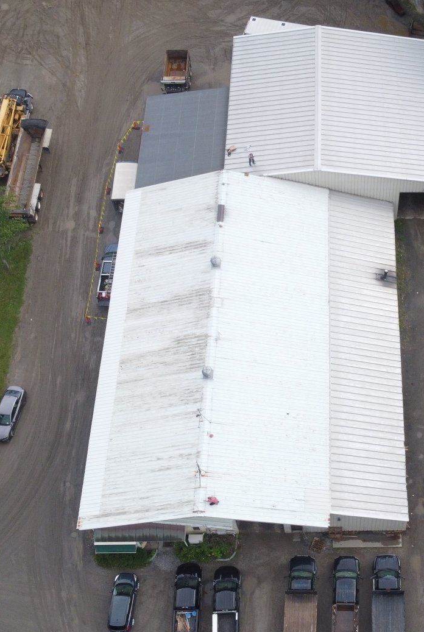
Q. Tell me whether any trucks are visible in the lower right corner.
Yes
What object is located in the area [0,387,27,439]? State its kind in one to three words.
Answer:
car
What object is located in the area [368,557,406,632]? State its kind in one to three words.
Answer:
truck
